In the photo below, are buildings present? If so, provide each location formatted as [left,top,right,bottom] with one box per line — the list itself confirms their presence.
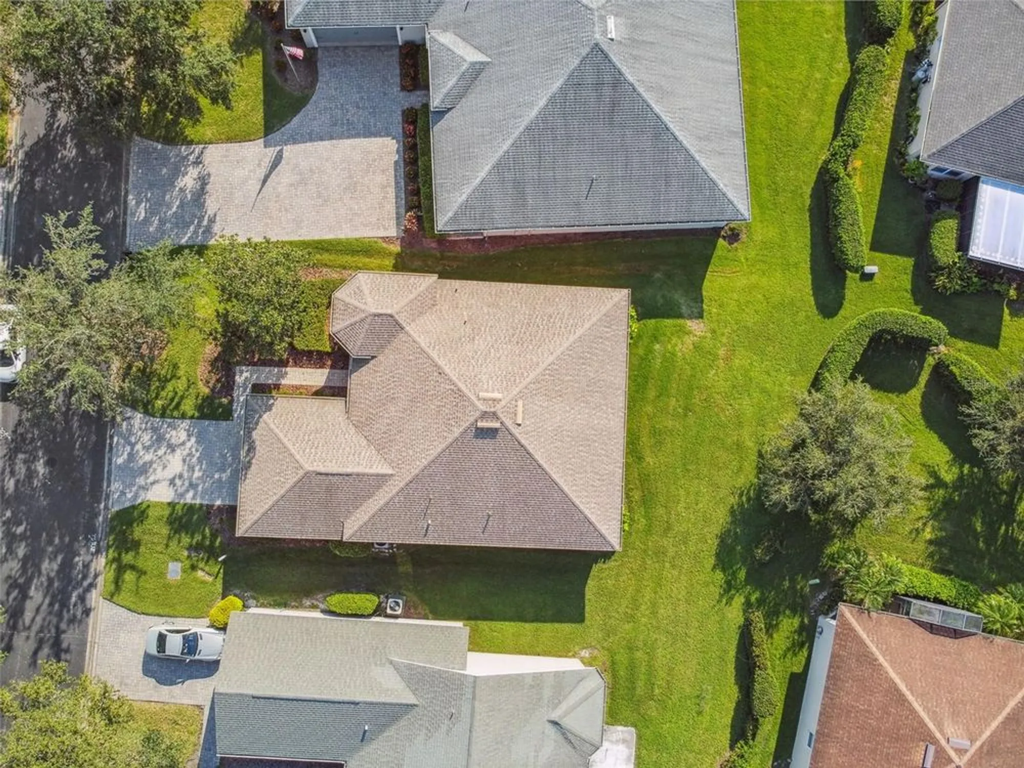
[282,0,751,242]
[904,0,1024,277]
[234,270,632,553]
[214,608,609,768]
[790,590,1024,768]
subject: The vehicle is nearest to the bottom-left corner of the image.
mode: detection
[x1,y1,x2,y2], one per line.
[144,625,225,669]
